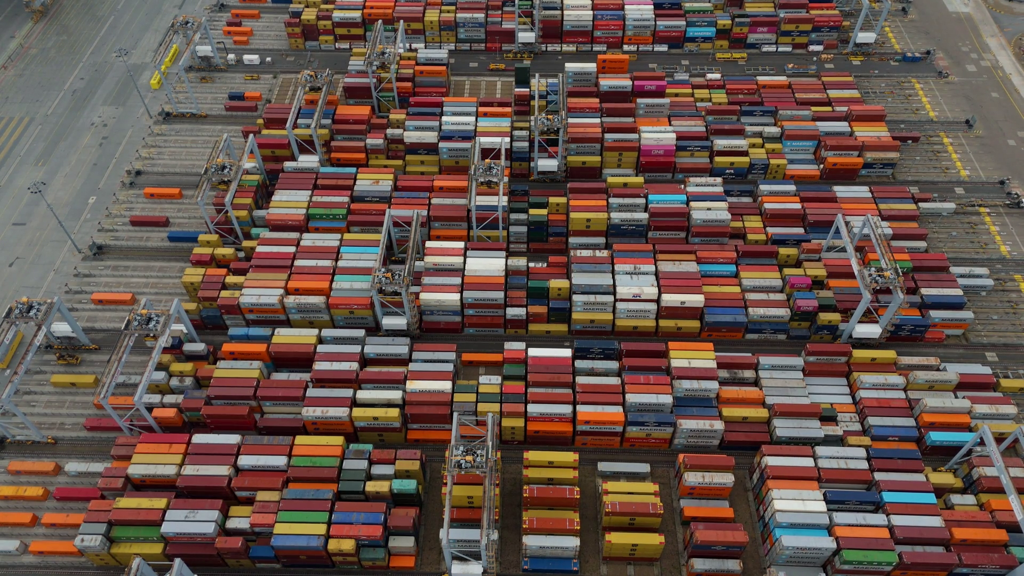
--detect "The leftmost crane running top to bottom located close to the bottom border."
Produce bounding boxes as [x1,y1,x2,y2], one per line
[442,411,504,576]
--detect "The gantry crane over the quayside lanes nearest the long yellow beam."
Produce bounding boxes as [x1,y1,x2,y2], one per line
[0,294,103,443]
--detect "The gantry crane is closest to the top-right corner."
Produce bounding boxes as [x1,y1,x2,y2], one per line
[843,0,895,56]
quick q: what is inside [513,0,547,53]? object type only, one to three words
container crane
